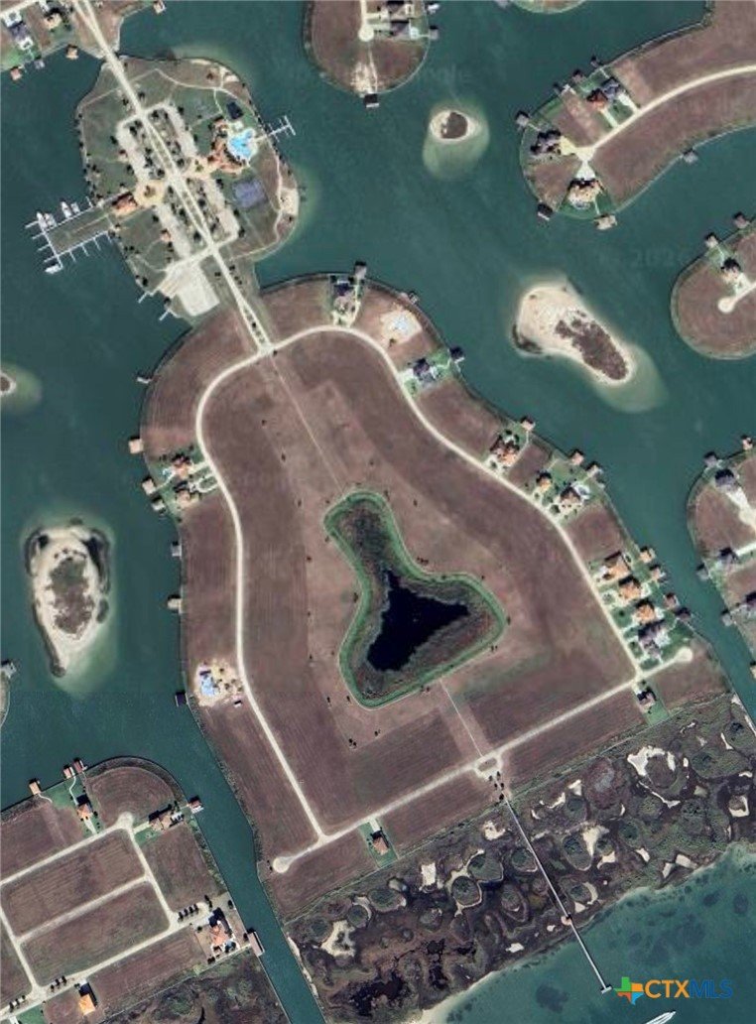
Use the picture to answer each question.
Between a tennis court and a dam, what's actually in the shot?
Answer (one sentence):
Of the two, only a tennis court appears.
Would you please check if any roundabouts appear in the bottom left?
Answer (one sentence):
No, looking in the bottom left, there is no roundabout.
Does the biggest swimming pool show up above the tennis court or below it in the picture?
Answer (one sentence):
Relative to the tennis court, the biggest swimming pool lies above it.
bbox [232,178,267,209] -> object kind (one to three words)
tennis court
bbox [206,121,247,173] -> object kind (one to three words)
building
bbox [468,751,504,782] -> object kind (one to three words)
roundabout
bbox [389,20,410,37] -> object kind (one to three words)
house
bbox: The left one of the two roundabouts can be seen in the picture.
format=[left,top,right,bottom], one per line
[135,177,165,206]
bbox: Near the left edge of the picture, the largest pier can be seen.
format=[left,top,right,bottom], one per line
[26,196,112,268]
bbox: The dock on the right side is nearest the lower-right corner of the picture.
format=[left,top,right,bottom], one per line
[502,799,612,993]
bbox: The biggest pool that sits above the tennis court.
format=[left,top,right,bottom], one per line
[227,126,258,163]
